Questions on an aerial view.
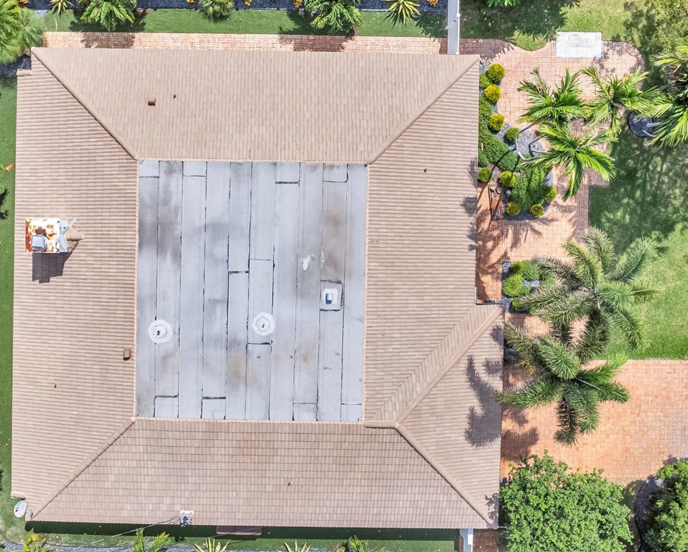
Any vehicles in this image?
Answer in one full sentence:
No, there is no vehicle in the image.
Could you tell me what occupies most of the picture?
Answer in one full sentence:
The scene is dominated by buildings.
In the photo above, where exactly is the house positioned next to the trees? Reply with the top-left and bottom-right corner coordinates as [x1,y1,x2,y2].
[8,43,508,534]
